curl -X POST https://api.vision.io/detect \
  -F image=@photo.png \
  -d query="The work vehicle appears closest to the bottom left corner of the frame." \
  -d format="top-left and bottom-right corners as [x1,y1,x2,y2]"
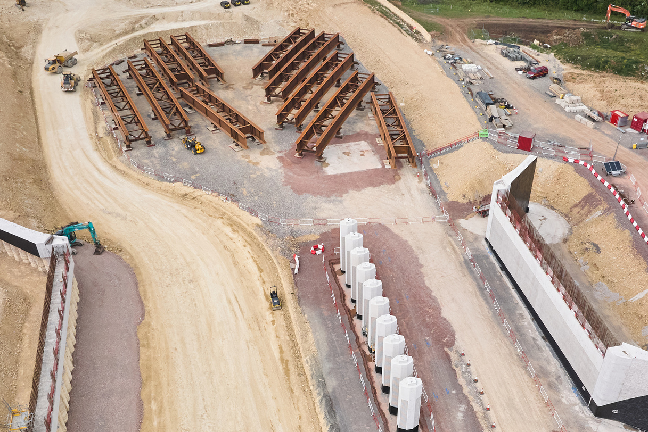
[54,219,113,253]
